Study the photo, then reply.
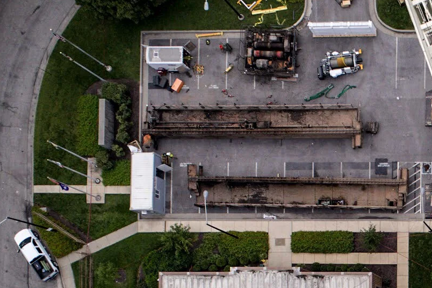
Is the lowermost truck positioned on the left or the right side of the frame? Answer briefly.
left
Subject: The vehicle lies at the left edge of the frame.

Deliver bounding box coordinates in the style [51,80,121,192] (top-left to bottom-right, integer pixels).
[15,226,61,282]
